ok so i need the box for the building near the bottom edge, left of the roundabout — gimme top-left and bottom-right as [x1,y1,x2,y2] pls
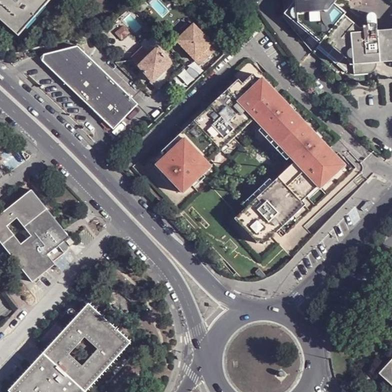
[9,303,130,392]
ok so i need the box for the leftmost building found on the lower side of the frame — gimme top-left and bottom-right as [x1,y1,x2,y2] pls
[0,190,68,281]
